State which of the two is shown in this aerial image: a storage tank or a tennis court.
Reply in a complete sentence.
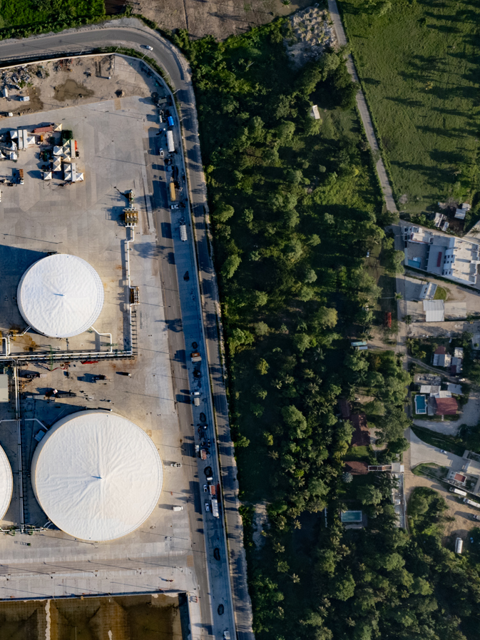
Of the two, only a storage tank appears.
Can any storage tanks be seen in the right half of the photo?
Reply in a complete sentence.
No, in the right half of the photo there is no storage tank.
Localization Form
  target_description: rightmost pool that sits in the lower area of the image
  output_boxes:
[413,394,427,415]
